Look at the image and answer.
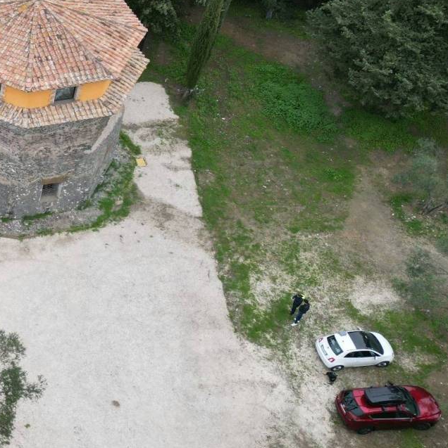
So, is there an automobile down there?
Yes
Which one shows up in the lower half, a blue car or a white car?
white car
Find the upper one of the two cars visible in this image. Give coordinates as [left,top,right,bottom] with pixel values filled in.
[315,322,397,371]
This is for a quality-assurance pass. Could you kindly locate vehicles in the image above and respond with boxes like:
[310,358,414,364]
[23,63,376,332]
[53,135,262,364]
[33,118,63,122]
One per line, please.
[330,376,443,434]
[315,322,397,371]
